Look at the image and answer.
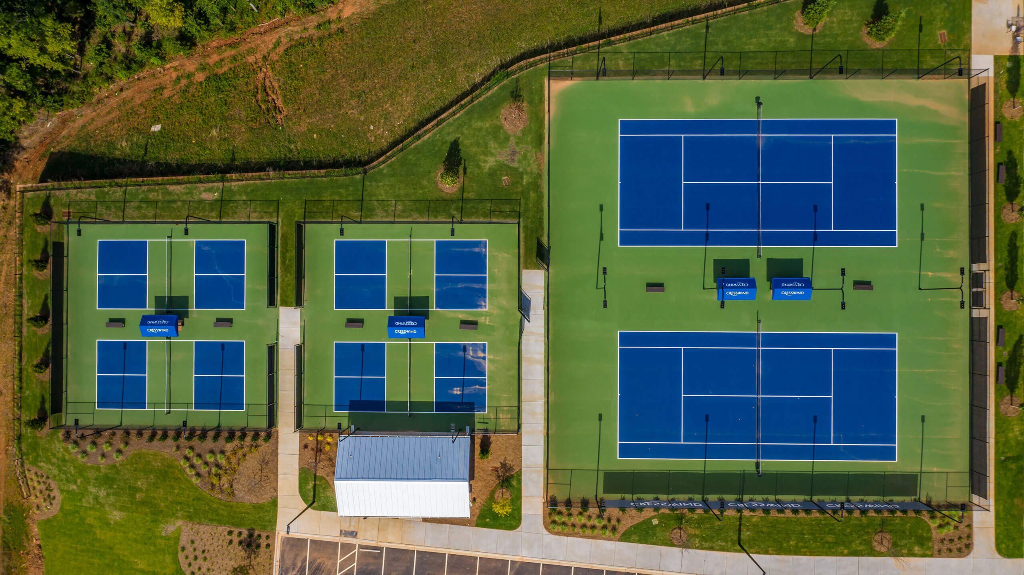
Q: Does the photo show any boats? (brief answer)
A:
No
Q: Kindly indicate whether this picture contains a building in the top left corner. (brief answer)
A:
No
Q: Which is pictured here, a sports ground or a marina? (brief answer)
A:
sports ground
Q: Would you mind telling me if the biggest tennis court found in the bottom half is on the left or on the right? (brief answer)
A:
right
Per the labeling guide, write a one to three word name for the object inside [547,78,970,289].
tennis court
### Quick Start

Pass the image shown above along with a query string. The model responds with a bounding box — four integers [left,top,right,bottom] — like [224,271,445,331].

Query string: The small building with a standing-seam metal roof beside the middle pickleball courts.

[334,434,470,519]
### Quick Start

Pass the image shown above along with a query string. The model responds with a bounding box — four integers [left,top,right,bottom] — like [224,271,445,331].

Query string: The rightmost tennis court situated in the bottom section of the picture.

[547,289,971,503]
